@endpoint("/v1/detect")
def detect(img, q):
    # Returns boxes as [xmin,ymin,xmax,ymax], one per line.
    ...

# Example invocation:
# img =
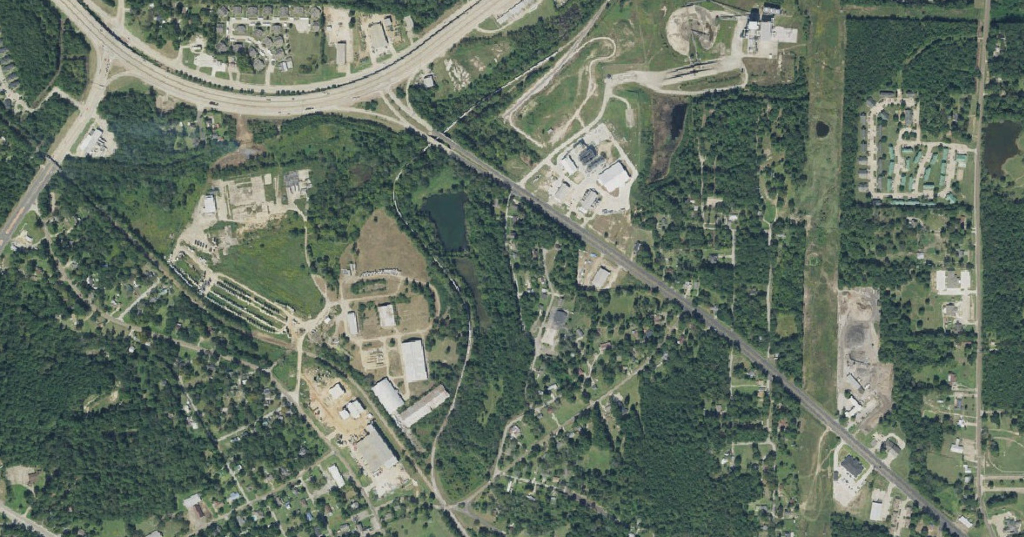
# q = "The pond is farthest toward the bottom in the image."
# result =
[422,191,468,251]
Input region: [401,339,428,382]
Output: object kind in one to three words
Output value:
building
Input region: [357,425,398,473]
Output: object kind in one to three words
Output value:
building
